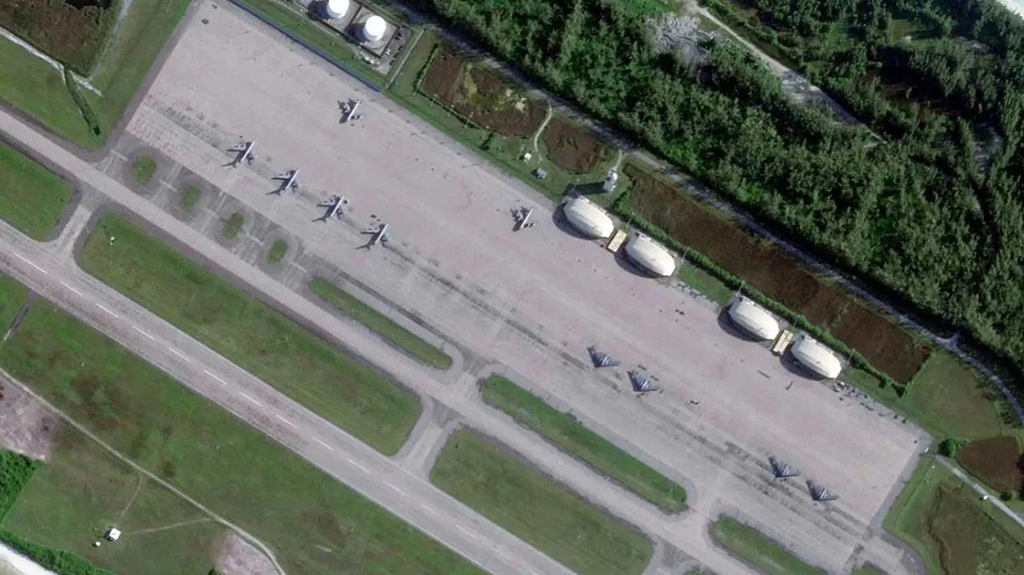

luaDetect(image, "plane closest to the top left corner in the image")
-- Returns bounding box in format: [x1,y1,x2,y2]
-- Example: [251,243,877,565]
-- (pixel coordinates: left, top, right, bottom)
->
[228,142,257,168]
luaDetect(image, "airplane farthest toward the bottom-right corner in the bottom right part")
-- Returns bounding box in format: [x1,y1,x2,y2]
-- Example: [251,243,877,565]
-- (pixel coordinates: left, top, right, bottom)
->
[808,481,839,500]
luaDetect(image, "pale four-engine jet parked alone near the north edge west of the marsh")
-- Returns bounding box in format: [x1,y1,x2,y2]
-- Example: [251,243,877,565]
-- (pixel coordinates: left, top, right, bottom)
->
[345,97,369,120]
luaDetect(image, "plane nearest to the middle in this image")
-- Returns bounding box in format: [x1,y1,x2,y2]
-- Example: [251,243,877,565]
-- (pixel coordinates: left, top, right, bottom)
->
[518,204,543,228]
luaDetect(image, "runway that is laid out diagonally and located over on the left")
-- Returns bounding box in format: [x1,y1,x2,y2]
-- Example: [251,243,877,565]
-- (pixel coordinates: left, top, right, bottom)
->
[0,220,576,575]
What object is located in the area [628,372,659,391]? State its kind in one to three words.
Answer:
airplane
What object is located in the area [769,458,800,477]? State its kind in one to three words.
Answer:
airplane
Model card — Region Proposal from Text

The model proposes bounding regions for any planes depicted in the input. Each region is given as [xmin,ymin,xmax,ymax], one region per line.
[345,97,369,120]
[317,196,346,222]
[518,204,543,228]
[808,481,839,500]
[769,458,800,477]
[272,169,301,195]
[228,142,257,168]
[362,224,391,250]
[628,372,659,391]
[590,347,621,366]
